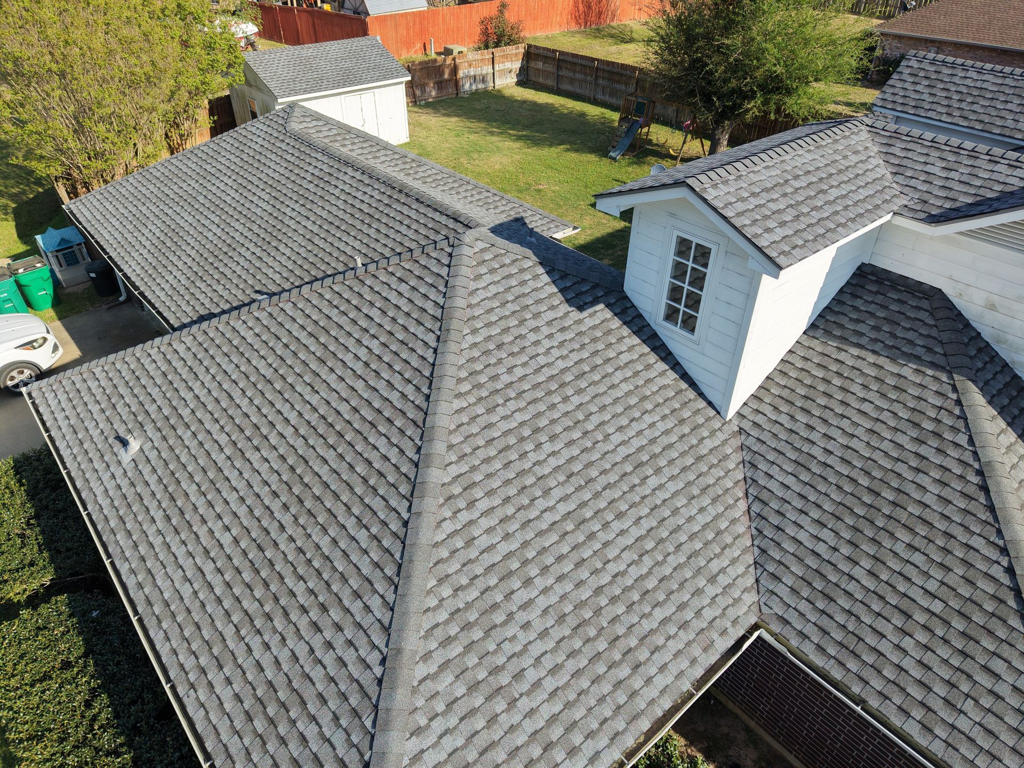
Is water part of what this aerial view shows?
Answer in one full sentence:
No, the picture contains no water.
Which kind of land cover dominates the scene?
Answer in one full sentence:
The scene is dominated by buildings.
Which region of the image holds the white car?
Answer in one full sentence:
You can find the white car in the left area of the picture.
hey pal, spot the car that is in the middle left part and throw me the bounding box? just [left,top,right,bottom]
[0,316,61,396]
